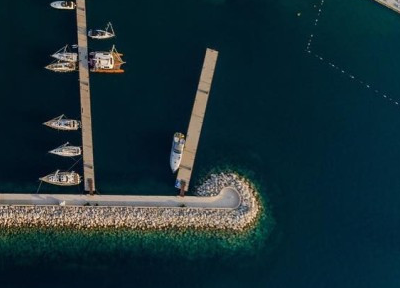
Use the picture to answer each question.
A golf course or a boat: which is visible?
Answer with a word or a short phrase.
boat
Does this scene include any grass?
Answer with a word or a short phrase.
No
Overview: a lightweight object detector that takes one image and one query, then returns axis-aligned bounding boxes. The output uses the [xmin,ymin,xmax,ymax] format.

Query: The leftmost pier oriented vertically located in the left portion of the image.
[75,0,95,198]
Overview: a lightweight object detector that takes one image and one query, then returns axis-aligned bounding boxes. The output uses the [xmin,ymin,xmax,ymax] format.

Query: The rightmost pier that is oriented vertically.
[175,48,218,197]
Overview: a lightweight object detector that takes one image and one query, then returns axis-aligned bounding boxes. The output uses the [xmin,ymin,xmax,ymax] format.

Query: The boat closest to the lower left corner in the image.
[40,172,81,186]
